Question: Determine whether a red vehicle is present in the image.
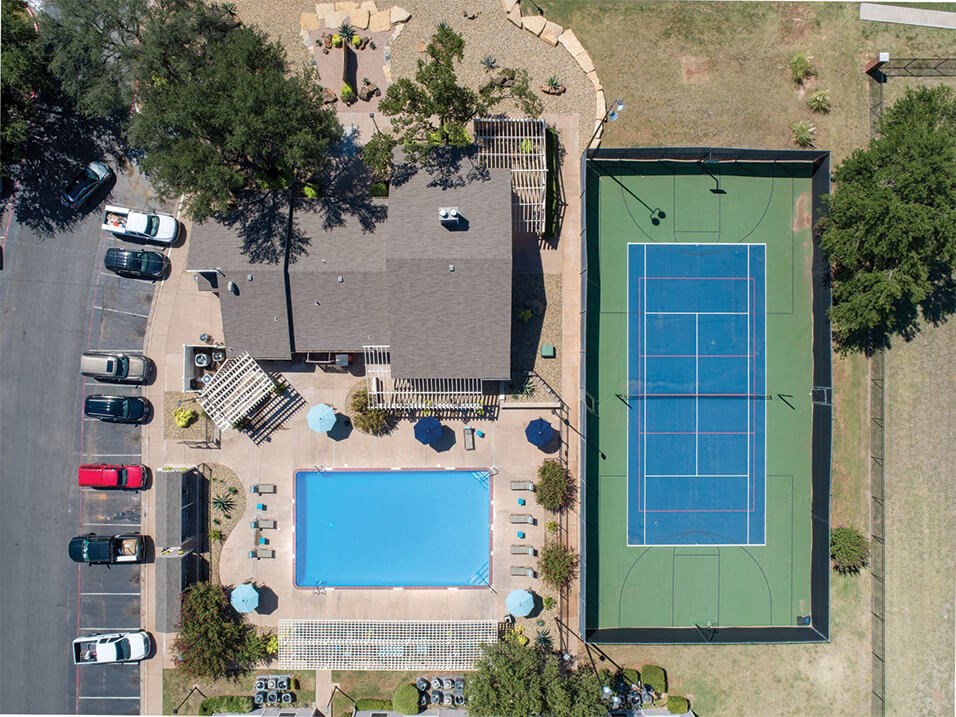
Yes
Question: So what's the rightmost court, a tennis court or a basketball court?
tennis court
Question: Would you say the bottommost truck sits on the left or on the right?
left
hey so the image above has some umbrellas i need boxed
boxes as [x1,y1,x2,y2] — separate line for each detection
[414,415,443,445]
[504,586,535,618]
[231,583,260,612]
[526,417,556,448]
[305,401,337,433]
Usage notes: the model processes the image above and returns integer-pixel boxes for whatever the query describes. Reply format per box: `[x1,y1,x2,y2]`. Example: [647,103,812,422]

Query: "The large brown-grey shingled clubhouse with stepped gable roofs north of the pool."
[186,148,513,381]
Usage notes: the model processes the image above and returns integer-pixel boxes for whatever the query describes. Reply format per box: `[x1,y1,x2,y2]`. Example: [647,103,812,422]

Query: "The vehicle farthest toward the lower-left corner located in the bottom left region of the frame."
[69,629,153,667]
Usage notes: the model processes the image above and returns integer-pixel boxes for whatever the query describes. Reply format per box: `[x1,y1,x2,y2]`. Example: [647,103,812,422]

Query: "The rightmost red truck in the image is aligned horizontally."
[74,462,148,493]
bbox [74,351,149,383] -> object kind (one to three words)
car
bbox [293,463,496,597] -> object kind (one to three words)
swimming pool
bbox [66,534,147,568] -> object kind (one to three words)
truck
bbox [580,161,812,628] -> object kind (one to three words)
tennis court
